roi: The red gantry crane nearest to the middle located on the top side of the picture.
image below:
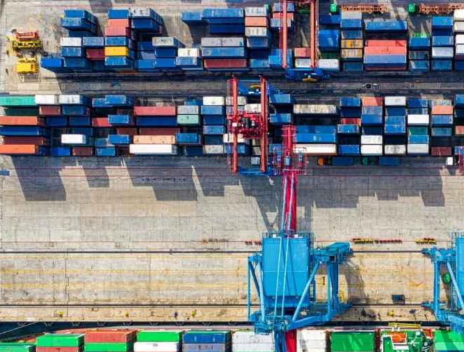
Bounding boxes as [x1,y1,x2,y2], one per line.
[228,77,287,179]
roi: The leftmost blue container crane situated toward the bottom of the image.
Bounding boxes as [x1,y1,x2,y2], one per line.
[240,124,355,352]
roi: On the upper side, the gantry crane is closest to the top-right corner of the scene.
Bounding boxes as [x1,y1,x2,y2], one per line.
[278,0,334,84]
